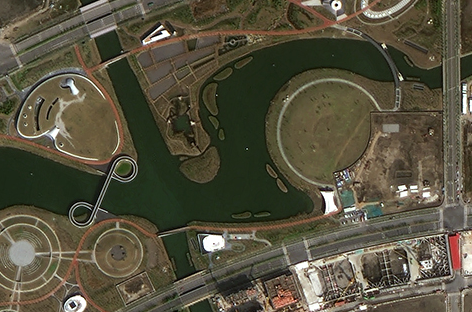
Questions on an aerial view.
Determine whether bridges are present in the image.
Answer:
Yes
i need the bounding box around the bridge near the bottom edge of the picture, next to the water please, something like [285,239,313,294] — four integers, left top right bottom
[168,271,216,310]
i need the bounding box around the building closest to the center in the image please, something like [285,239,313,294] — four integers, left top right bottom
[201,234,227,252]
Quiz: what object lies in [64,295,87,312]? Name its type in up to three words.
building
